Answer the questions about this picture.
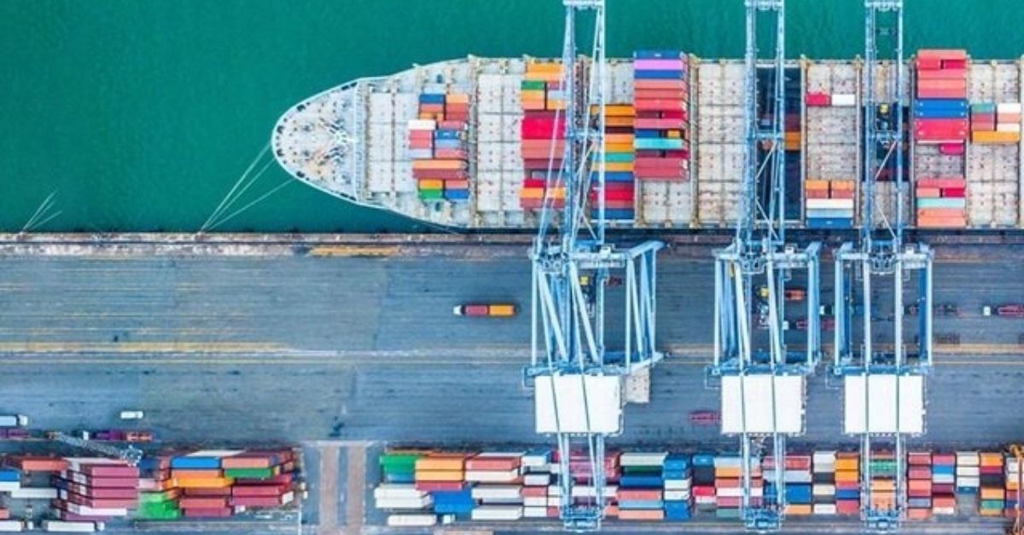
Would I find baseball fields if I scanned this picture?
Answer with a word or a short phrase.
No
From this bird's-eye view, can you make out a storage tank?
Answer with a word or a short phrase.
No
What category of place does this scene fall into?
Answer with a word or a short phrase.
port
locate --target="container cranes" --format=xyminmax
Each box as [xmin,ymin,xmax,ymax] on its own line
[826,0,941,529]
[1008,438,1024,535]
[706,0,834,529]
[524,0,674,529]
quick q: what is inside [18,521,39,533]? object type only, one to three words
vehicle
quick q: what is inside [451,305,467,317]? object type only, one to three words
vehicle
